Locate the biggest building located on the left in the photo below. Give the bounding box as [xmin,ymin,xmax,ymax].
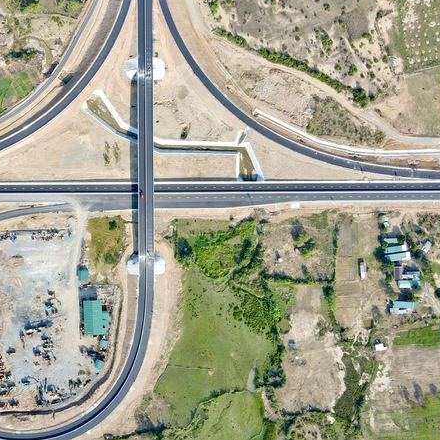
[83,299,102,336]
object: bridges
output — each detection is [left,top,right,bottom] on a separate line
[137,0,153,259]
